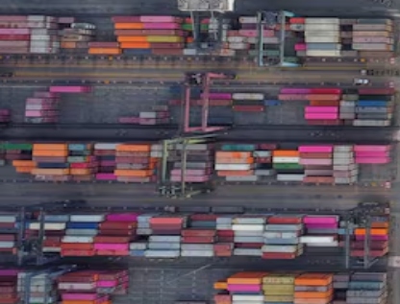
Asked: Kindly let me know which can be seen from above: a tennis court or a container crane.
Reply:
container crane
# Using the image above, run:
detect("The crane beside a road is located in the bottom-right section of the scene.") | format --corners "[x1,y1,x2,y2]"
[344,197,390,269]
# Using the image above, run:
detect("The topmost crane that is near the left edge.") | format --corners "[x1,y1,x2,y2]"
[17,196,82,267]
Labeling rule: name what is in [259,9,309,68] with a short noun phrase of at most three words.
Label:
container crane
